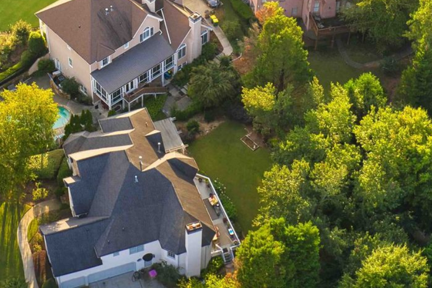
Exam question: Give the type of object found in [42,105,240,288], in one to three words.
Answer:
house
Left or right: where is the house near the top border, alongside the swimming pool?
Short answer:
left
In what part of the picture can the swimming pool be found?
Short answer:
left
